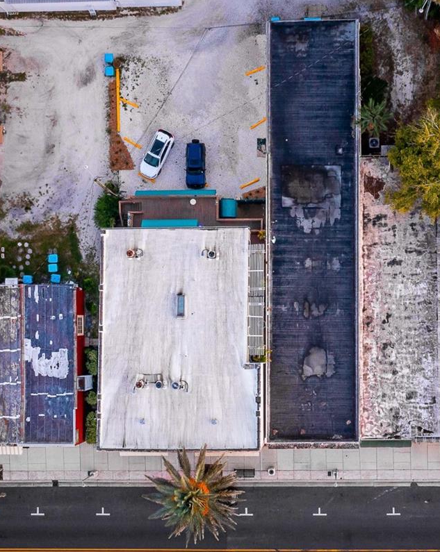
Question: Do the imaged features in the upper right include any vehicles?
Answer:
No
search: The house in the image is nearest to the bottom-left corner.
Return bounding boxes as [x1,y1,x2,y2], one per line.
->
[0,284,88,447]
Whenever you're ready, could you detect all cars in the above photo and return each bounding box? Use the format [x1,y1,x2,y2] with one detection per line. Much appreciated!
[181,138,205,188]
[138,124,175,181]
